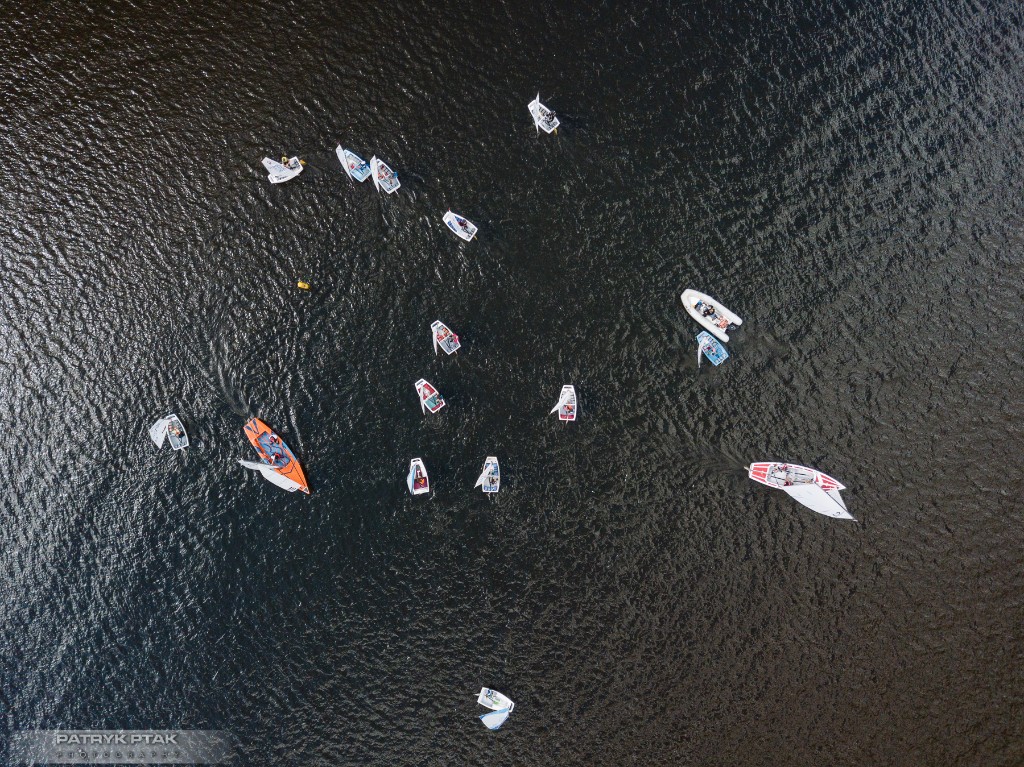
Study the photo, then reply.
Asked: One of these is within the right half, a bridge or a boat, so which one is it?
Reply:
boat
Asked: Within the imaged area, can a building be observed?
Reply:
No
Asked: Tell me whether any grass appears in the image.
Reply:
No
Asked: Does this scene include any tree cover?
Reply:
No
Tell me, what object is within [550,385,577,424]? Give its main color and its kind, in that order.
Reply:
white boat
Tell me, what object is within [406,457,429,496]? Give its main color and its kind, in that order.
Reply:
white boat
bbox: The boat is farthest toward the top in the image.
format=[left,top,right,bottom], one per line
[528,94,561,134]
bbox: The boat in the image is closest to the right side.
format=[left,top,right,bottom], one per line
[742,462,858,519]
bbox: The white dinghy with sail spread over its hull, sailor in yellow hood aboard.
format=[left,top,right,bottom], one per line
[258,155,305,184]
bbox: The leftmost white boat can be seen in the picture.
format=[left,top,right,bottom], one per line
[148,413,191,451]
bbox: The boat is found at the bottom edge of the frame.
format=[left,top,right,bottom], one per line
[476,686,515,731]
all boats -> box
[475,456,500,492]
[742,462,858,519]
[443,207,479,242]
[528,94,561,134]
[258,155,305,184]
[682,288,743,342]
[370,154,402,195]
[415,378,446,413]
[430,319,461,355]
[550,385,577,424]
[476,686,515,731]
[240,416,311,494]
[148,413,191,451]
[695,331,728,369]
[406,457,429,496]
[336,145,372,184]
